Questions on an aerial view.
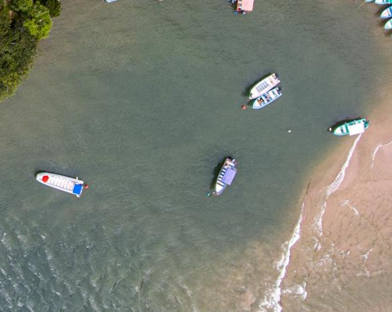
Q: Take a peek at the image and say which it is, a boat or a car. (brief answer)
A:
boat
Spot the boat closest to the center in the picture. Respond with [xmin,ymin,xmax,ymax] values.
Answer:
[215,157,237,196]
